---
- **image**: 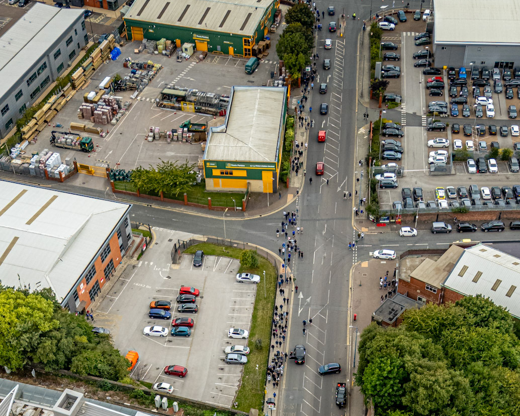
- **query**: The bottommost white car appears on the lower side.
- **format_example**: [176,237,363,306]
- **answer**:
[152,382,175,396]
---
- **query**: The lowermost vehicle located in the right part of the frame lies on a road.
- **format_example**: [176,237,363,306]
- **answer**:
[334,385,348,408]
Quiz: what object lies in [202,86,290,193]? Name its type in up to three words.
building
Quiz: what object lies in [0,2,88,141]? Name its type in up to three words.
building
